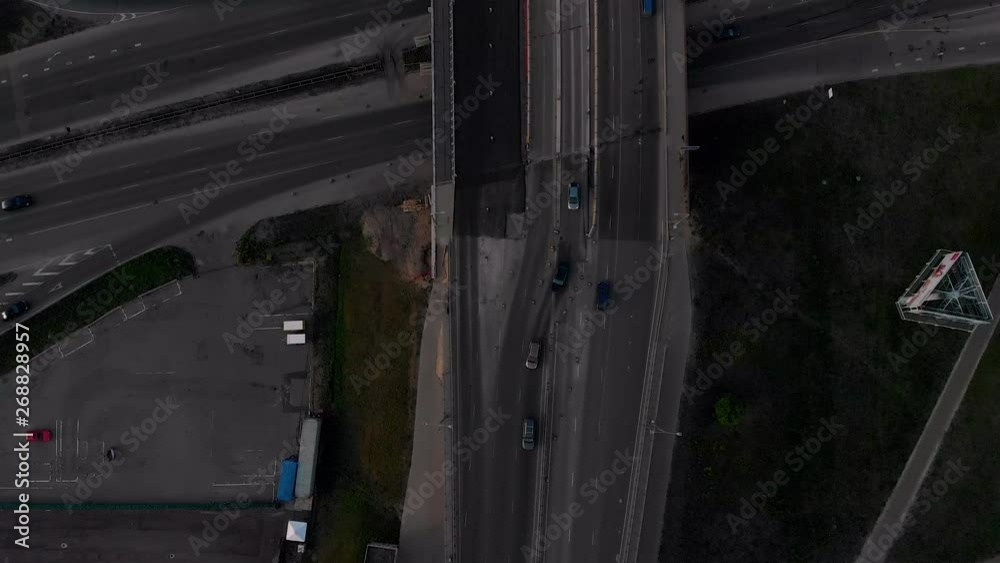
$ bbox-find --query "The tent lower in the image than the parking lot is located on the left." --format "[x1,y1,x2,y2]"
[287,518,311,541]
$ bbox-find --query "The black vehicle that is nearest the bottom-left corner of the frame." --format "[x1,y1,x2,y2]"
[1,300,30,319]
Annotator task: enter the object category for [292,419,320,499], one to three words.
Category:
trailer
